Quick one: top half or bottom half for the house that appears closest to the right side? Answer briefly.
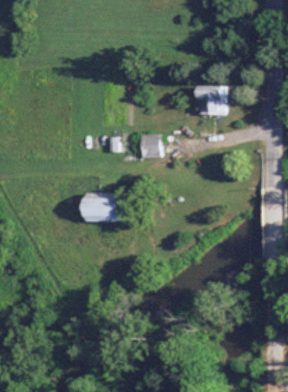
top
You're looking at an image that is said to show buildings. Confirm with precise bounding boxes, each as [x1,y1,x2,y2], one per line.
[110,137,122,152]
[140,134,164,158]
[78,192,120,222]
[193,86,230,120]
